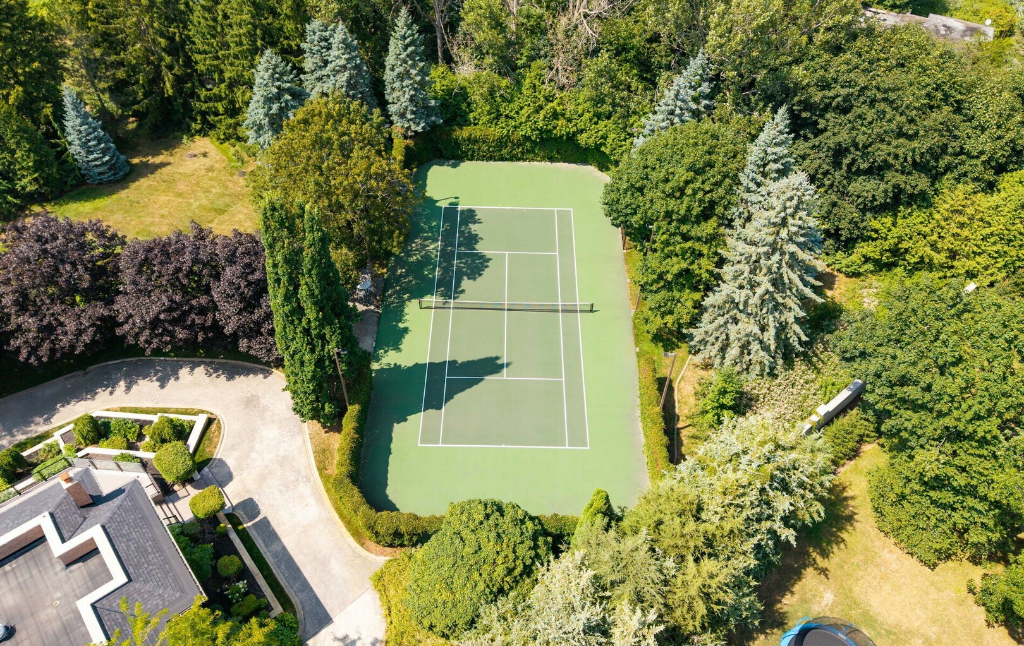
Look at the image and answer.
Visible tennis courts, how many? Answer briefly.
1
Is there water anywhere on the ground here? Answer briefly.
No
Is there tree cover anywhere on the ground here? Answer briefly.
Yes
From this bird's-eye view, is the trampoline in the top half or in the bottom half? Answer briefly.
bottom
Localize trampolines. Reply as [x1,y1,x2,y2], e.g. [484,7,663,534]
[780,609,870,646]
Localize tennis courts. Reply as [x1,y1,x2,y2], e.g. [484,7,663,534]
[363,160,648,528]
